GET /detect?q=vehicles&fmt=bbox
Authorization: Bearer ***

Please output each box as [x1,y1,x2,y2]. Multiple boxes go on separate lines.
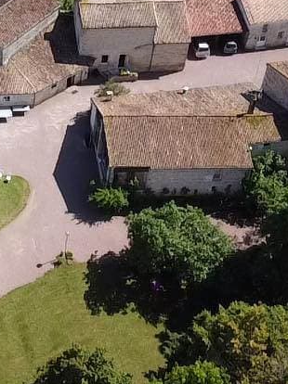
[192,37,213,60]
[218,34,242,56]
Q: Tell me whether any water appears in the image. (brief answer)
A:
No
